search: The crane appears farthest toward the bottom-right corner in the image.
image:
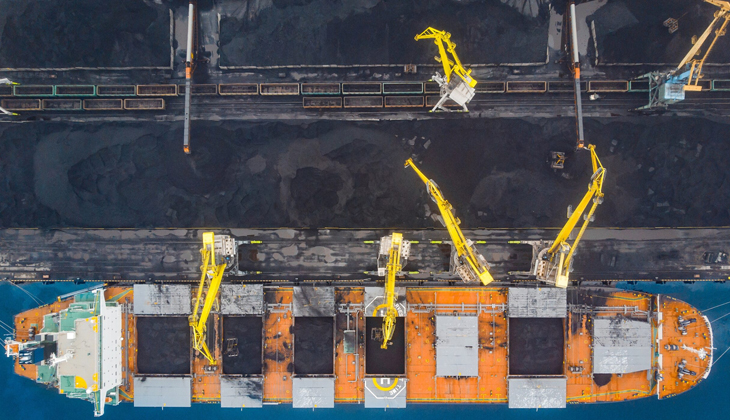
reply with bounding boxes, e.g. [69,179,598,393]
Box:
[510,145,607,287]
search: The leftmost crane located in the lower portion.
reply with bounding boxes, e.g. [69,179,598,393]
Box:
[187,232,261,365]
